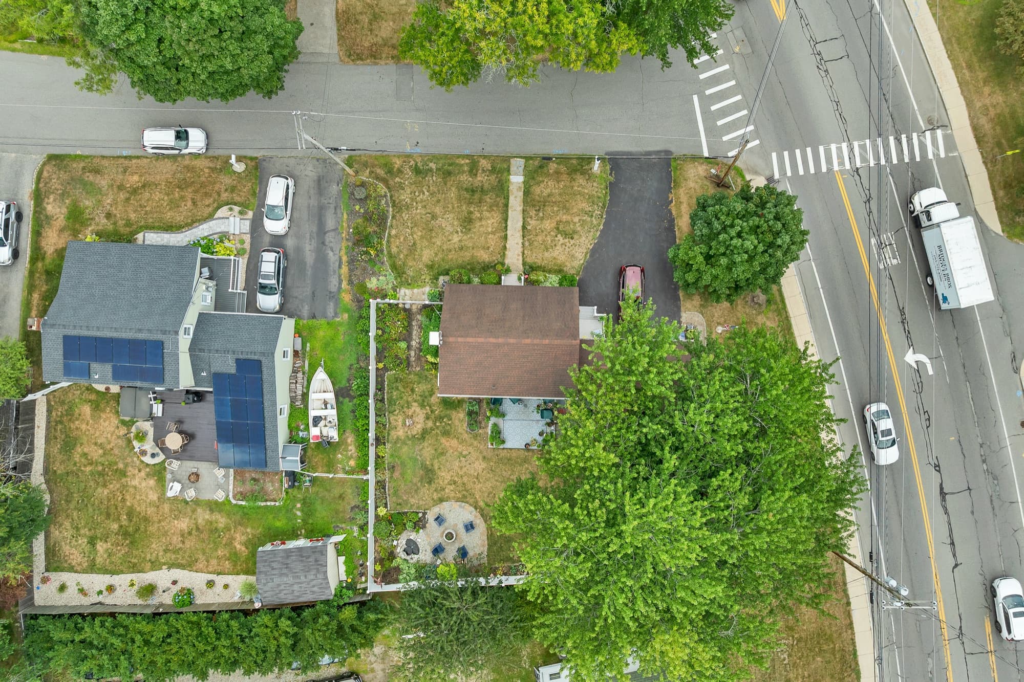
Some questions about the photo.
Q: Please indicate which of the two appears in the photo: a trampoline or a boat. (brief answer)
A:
boat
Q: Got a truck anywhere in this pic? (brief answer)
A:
Yes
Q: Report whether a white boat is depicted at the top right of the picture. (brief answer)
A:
No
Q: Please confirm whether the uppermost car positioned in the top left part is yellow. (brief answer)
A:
No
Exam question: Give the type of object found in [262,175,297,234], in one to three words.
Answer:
car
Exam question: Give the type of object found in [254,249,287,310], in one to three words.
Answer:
car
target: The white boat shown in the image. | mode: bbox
[309,366,337,449]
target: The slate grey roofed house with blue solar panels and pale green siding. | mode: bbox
[26,240,309,471]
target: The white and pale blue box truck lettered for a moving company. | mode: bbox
[904,186,994,312]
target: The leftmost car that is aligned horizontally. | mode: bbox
[141,124,209,157]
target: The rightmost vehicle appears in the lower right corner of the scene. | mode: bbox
[988,574,1024,642]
